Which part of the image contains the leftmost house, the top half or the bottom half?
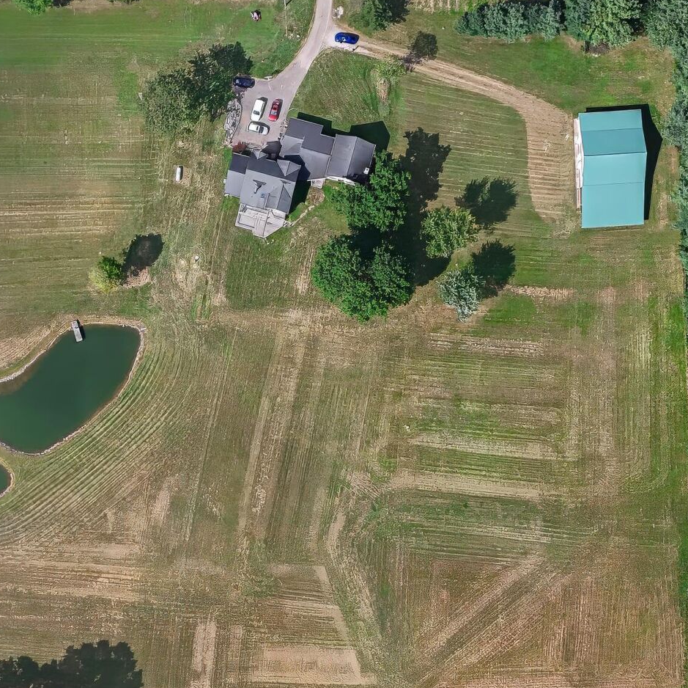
top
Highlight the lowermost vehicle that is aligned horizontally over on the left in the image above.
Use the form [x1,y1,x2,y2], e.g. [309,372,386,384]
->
[247,122,269,135]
